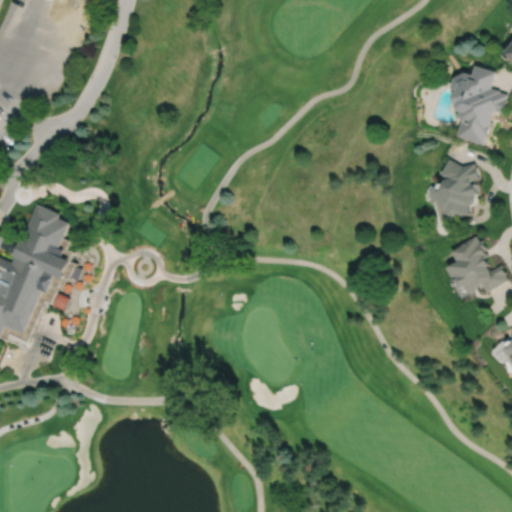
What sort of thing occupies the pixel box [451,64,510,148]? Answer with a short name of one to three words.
house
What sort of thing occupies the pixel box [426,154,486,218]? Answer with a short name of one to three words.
house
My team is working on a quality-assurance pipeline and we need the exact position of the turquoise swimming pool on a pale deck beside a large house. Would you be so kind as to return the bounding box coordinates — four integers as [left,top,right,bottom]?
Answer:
[422,84,460,127]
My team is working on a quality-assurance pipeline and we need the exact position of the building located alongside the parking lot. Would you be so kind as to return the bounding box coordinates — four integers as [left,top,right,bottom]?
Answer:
[0,200,70,340]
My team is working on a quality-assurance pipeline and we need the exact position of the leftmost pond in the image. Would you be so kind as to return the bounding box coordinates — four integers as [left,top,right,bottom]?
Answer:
[58,418,218,512]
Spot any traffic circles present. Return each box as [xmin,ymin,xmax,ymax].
[125,248,164,286]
